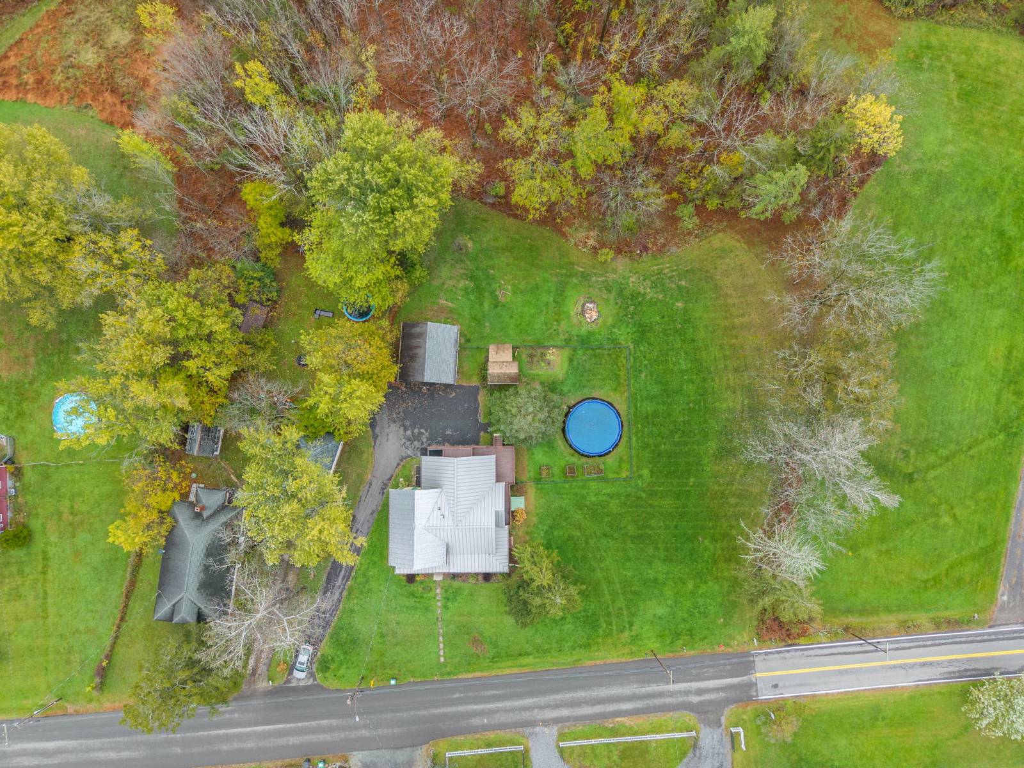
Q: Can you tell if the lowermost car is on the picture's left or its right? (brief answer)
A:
left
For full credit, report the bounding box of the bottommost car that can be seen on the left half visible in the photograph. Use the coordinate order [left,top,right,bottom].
[293,642,314,679]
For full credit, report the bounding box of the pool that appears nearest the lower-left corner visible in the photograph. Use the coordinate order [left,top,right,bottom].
[51,391,88,438]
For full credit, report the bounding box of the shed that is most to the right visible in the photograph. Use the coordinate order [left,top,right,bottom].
[487,344,518,384]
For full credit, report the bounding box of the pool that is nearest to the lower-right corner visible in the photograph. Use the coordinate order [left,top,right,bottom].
[564,398,623,456]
